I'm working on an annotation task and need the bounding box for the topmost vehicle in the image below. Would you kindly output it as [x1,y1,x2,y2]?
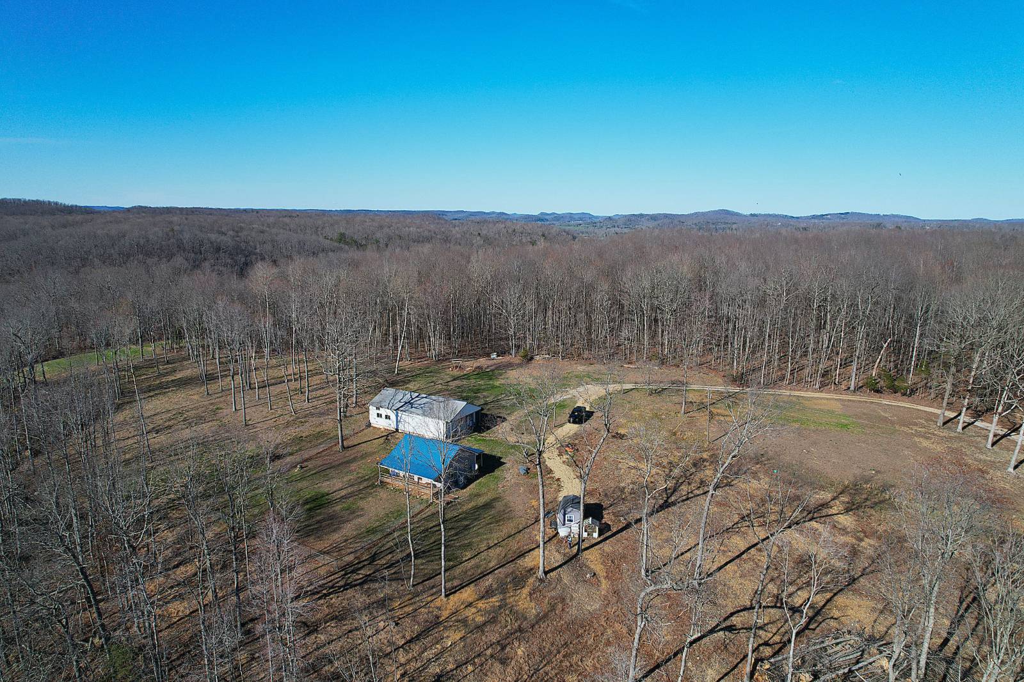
[568,407,585,423]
